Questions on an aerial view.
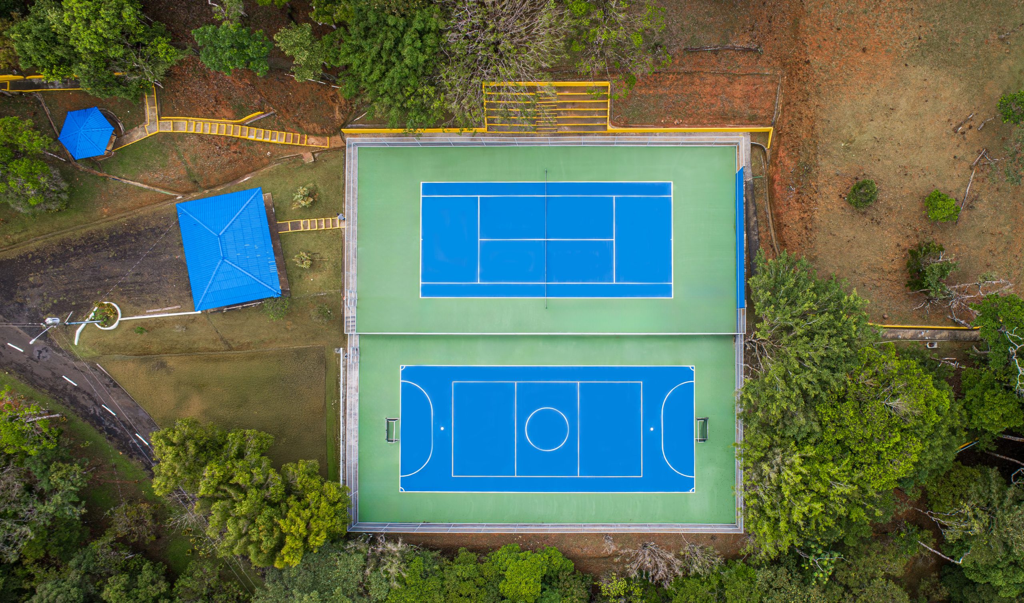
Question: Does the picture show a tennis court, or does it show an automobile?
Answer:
tennis court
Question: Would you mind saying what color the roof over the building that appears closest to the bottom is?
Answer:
blue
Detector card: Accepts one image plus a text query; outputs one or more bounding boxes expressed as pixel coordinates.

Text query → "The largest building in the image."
[175,187,291,313]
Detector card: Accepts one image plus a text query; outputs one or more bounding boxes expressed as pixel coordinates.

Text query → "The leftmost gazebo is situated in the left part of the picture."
[57,106,128,162]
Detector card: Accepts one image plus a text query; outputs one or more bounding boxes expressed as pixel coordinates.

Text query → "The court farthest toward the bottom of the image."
[358,335,735,523]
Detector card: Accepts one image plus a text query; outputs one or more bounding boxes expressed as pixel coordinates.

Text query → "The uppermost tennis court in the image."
[357,146,737,333]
